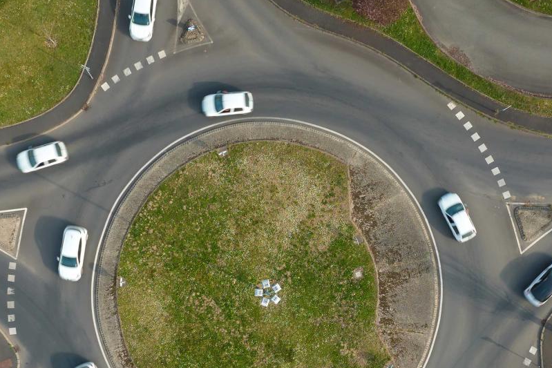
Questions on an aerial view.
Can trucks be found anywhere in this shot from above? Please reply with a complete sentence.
No, no truck is visible in the scene.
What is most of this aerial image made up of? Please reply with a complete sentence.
For the most part, this view shows paved ground.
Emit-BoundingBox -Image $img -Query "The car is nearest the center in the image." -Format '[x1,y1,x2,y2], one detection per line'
[201,89,255,119]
